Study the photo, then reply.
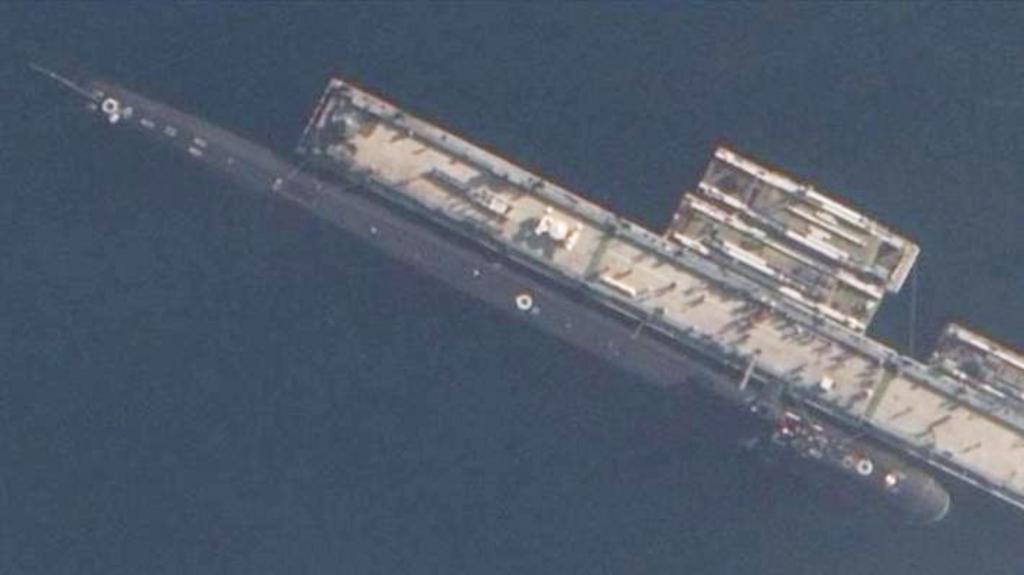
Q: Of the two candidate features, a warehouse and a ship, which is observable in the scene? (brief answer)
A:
ship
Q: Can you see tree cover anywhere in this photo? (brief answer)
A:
No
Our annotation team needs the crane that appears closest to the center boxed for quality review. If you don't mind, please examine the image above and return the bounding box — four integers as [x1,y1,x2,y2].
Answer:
[529,207,581,255]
